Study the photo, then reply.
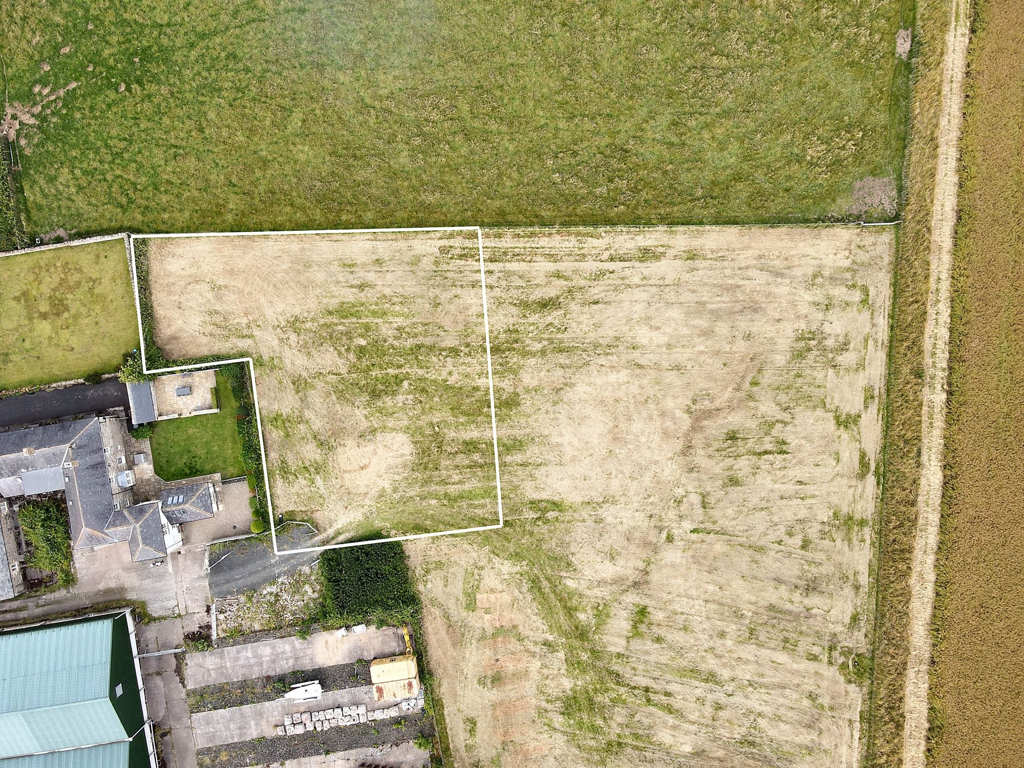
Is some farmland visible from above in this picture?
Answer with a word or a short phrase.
Yes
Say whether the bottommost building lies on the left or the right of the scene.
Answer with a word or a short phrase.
left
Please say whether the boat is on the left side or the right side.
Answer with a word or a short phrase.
left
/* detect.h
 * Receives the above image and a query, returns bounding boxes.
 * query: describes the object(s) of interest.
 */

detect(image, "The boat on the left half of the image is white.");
[275,680,325,703]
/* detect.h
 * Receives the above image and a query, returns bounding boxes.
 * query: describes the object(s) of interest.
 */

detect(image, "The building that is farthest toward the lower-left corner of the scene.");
[0,607,153,768]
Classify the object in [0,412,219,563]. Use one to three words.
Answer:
house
